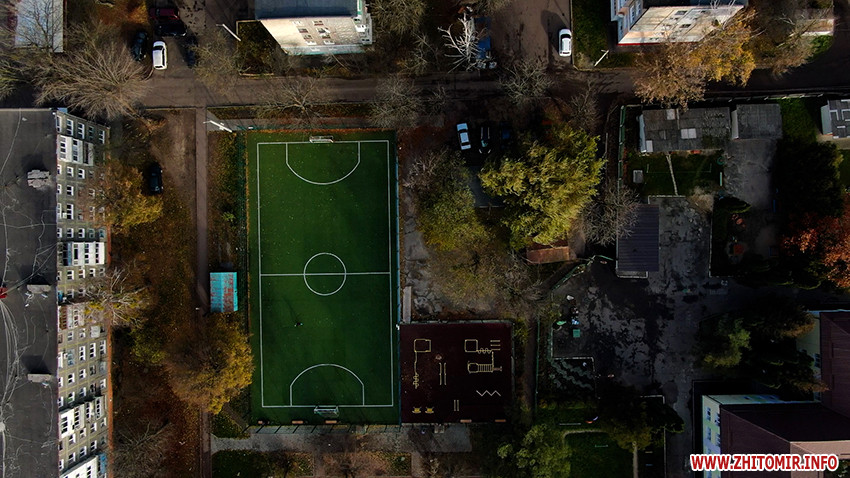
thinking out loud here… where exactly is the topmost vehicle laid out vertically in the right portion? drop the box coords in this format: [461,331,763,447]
[558,28,573,57]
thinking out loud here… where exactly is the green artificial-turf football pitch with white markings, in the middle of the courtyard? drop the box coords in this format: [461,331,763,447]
[247,129,400,425]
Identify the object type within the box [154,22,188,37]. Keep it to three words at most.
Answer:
car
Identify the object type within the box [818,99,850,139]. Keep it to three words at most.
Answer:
building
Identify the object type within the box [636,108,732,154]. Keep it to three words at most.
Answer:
building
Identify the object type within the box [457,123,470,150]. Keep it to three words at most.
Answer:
vehicle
